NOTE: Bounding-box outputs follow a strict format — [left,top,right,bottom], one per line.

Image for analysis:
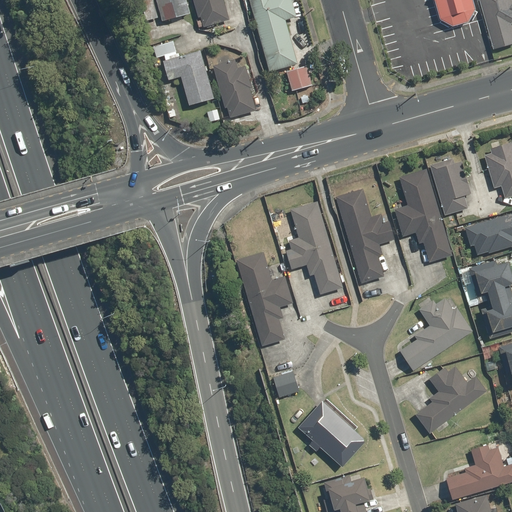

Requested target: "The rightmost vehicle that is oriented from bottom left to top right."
[407,320,424,334]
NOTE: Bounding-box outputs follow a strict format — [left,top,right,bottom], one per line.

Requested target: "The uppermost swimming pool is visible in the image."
[459,268,483,306]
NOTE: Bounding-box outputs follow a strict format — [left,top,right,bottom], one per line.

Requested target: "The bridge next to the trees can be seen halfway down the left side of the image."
[0,172,122,268]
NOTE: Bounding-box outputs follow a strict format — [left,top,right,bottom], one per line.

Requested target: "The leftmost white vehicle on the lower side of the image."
[42,412,54,432]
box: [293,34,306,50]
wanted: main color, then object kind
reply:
gray vehicle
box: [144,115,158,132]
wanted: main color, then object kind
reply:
white vehicle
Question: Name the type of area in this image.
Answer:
residential area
